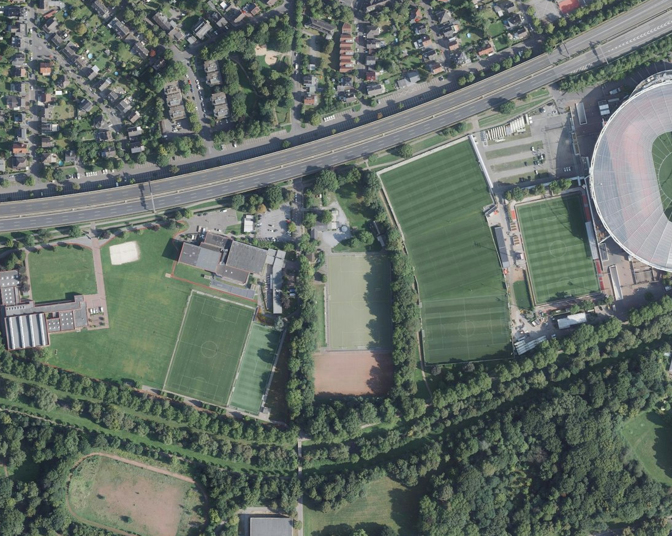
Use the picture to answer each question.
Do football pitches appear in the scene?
Yes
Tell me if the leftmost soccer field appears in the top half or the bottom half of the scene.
bottom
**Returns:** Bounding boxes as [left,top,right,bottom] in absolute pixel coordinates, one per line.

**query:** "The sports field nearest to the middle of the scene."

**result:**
[325,251,392,351]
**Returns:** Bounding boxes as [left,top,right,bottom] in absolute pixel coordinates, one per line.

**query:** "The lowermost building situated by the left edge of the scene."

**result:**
[0,270,87,351]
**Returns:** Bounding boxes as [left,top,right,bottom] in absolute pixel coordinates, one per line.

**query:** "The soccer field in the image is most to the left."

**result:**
[163,290,255,408]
